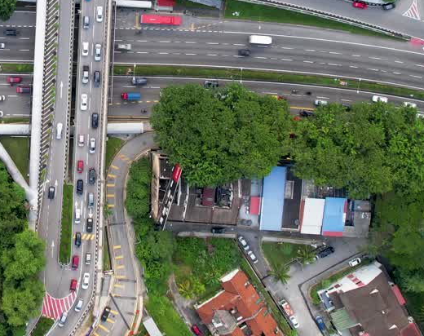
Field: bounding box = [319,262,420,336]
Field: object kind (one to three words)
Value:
house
